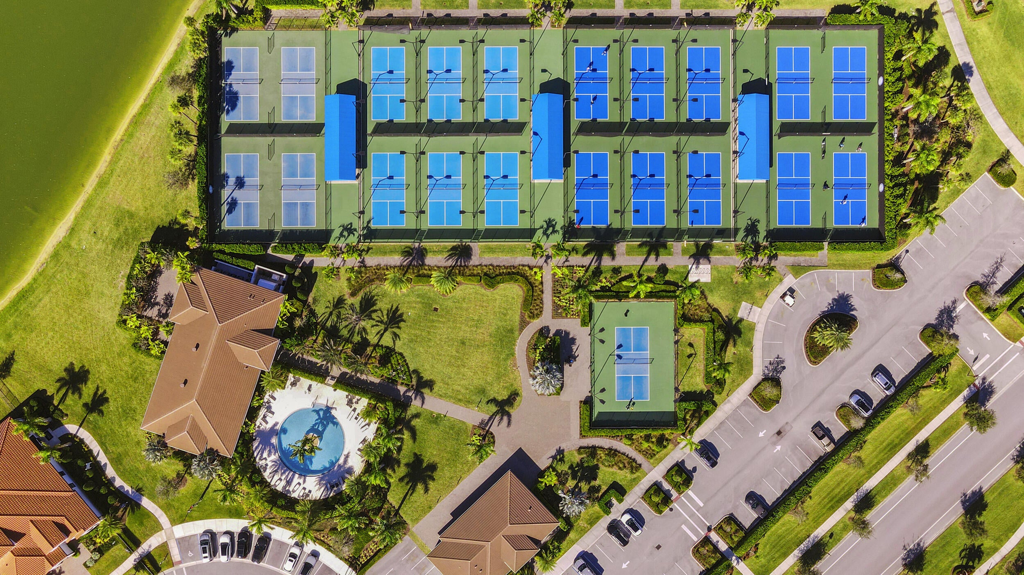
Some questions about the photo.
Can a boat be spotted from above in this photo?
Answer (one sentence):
No, I can see no boat in this picture.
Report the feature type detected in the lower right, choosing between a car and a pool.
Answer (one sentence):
The one visible in the lower right is a car.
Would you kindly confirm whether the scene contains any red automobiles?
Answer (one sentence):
No, there is no red automobile in the image.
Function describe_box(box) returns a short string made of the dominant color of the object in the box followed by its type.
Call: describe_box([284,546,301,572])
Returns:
white car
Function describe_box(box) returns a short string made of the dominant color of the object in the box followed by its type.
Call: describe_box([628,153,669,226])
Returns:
blue sports court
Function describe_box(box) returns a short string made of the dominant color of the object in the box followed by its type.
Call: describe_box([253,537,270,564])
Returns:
black car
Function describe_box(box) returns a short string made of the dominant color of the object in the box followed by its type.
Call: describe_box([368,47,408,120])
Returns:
blue sports court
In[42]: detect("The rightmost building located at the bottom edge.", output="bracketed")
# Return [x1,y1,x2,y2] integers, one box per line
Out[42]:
[426,470,560,575]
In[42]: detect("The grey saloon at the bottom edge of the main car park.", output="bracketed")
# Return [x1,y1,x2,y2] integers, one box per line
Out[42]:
[575,555,597,575]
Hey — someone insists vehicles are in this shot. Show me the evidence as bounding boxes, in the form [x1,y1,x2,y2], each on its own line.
[253,537,270,564]
[621,512,642,537]
[780,288,796,305]
[236,532,251,560]
[745,492,765,516]
[218,535,232,563]
[301,553,320,575]
[871,368,894,394]
[849,393,873,418]
[199,534,214,562]
[607,520,629,547]
[575,555,597,575]
[695,442,718,468]
[808,423,835,451]
[284,546,301,572]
